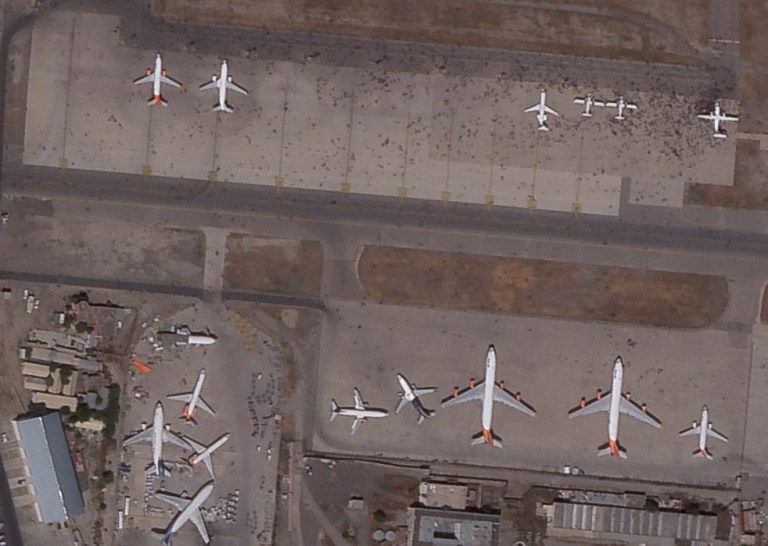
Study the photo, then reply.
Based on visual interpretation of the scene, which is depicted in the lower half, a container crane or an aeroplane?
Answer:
aeroplane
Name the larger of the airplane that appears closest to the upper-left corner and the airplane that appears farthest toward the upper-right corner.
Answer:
the airplane that appears closest to the upper-left corner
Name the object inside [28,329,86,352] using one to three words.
building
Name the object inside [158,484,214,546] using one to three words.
airplane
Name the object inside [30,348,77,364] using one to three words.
building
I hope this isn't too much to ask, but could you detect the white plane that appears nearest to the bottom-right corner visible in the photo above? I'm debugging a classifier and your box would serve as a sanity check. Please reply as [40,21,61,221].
[680,406,728,458]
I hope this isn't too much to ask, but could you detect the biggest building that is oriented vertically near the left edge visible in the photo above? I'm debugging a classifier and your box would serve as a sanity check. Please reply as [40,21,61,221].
[14,411,85,523]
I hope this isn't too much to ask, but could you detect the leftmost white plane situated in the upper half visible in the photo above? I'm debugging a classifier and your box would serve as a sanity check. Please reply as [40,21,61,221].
[134,54,182,105]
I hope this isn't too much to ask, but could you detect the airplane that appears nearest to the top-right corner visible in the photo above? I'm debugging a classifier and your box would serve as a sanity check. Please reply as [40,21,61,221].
[698,103,737,136]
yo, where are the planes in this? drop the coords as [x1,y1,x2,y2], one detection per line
[574,94,604,116]
[606,98,636,119]
[442,346,537,448]
[200,60,247,112]
[185,433,230,478]
[399,374,438,424]
[698,103,737,136]
[524,89,559,130]
[334,389,389,436]
[158,484,214,546]
[134,54,182,105]
[167,370,217,430]
[569,356,664,457]
[124,401,194,475]
[680,406,728,458]
[157,328,217,344]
